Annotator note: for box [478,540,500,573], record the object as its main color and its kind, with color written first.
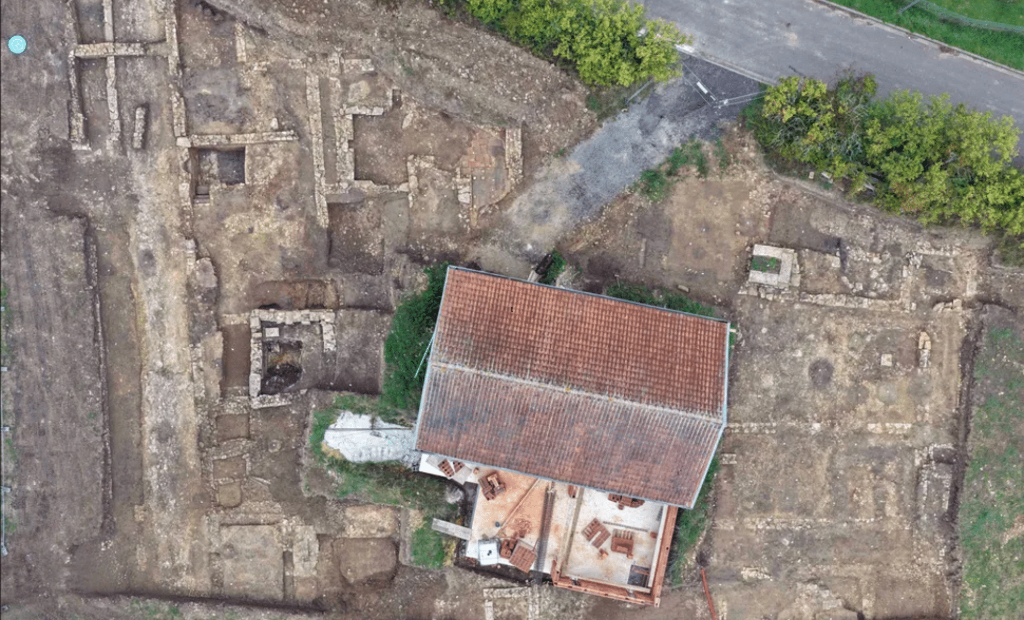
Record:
white water tank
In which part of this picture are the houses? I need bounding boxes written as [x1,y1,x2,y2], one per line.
[412,263,732,512]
